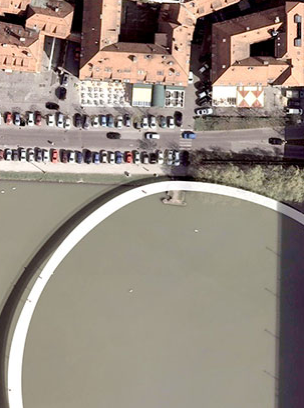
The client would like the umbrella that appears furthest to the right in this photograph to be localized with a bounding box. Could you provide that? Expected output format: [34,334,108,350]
[250,87,263,107]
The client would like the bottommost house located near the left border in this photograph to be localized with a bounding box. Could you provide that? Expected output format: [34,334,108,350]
[0,22,43,73]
